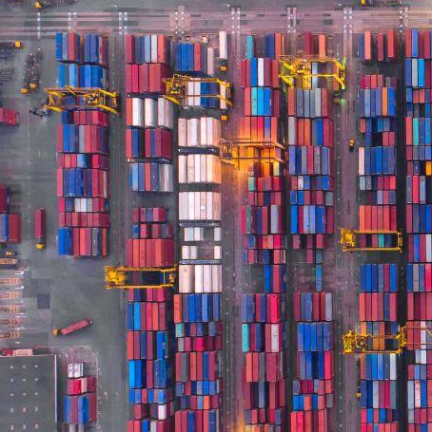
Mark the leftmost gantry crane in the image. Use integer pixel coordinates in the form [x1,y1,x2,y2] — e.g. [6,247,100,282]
[41,86,118,117]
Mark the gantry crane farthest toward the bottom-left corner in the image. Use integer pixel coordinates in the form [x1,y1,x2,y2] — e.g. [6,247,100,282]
[110,264,183,289]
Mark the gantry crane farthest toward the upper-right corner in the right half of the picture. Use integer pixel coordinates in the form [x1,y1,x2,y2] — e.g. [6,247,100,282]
[276,56,345,88]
